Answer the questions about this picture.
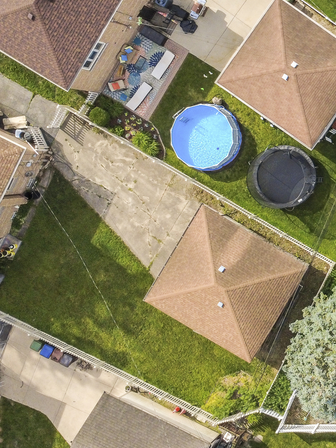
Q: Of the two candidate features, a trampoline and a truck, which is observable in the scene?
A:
trampoline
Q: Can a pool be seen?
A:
Yes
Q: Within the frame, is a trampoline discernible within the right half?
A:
Yes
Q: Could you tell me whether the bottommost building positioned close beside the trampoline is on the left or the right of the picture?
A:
right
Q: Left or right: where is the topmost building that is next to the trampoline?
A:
right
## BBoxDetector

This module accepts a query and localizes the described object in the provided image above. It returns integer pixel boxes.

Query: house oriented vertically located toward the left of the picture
[0,123,55,253]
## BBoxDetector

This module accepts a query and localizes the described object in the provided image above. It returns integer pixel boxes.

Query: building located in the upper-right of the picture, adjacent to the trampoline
[214,0,336,151]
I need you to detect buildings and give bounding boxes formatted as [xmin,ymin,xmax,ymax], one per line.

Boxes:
[141,202,313,365]
[64,384,224,448]
[214,0,336,151]
[0,123,55,253]
[0,0,153,92]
